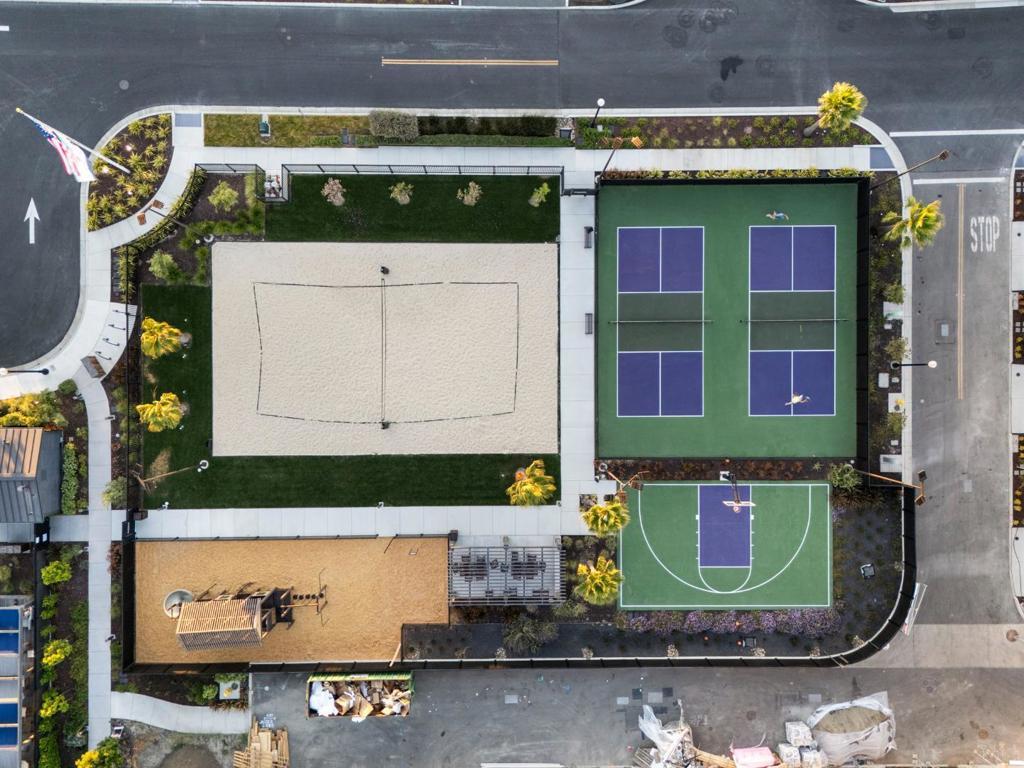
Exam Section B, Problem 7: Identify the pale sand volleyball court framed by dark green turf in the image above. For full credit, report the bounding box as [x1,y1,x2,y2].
[210,240,560,457]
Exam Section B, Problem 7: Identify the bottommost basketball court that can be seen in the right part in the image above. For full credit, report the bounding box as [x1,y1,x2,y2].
[618,481,832,609]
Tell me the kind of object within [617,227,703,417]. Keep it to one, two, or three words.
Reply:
sports court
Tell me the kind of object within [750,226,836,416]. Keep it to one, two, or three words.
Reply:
sports court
